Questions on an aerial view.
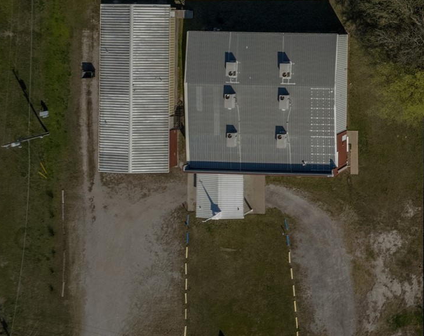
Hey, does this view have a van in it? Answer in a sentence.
No, there isn't any van down there.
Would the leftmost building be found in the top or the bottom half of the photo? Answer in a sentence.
It is in the top half that the leftmost building appears.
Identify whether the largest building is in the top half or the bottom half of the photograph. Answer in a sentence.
You can find the largest building in the top half.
